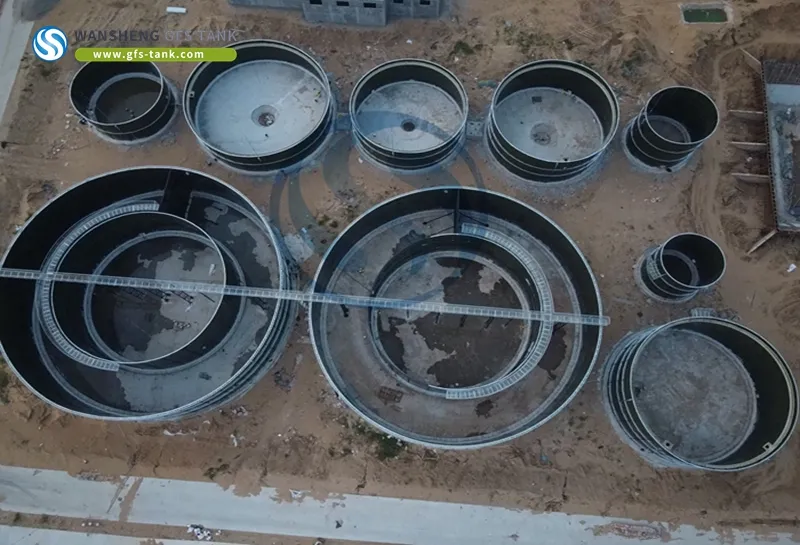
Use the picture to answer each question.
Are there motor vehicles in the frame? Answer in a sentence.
No, the photo shows no motor vehicle.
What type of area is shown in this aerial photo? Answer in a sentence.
It's an industrial area.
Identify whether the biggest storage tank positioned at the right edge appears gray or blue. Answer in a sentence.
The biggest storage tank positioned at the right edge looks gray in the image.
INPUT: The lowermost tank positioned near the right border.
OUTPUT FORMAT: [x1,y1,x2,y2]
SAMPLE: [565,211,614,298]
[599,317,798,474]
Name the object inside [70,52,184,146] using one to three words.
storage tank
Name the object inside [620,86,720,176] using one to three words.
storage tank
